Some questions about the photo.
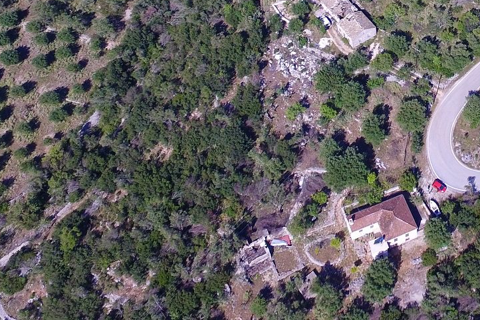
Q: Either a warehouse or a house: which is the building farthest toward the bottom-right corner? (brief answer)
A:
house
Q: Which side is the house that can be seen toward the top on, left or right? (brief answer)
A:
right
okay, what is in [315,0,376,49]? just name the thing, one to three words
house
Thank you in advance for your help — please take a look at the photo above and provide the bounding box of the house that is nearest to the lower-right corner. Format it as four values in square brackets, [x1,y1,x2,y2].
[344,191,419,270]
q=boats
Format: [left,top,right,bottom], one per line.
[430,199,443,218]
